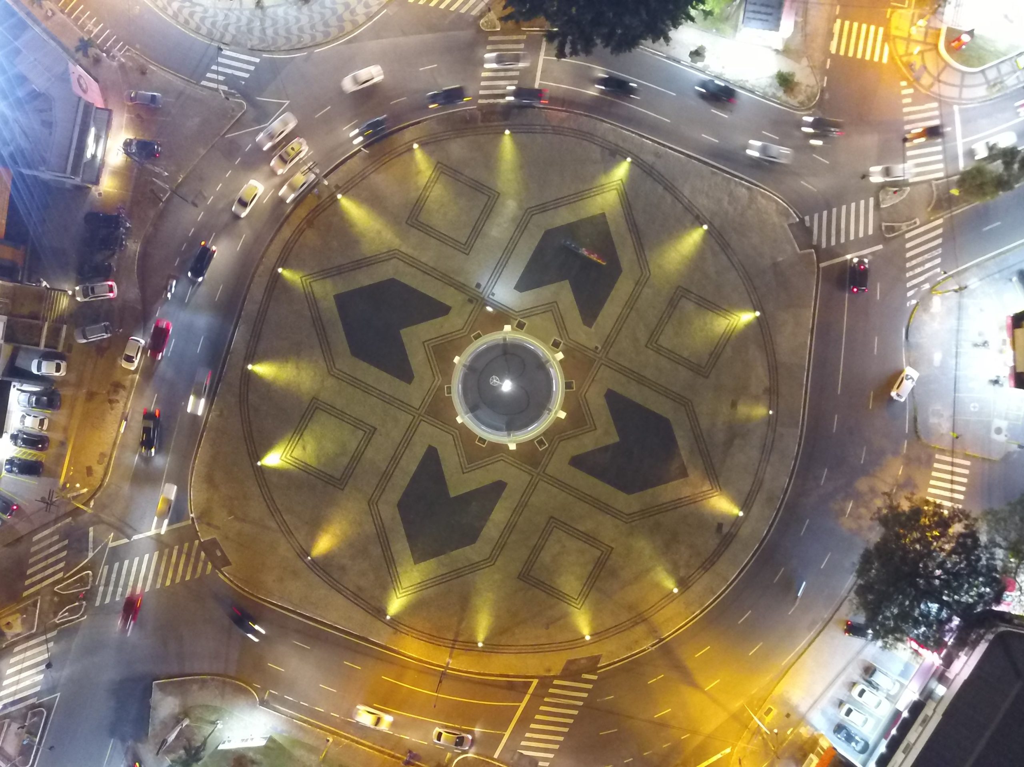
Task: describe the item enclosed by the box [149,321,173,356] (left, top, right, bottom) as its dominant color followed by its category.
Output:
red car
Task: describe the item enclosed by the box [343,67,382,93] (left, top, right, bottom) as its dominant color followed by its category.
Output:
white car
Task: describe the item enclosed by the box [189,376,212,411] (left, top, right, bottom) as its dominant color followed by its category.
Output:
gray car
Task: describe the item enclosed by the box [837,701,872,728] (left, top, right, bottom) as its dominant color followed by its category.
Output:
white car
